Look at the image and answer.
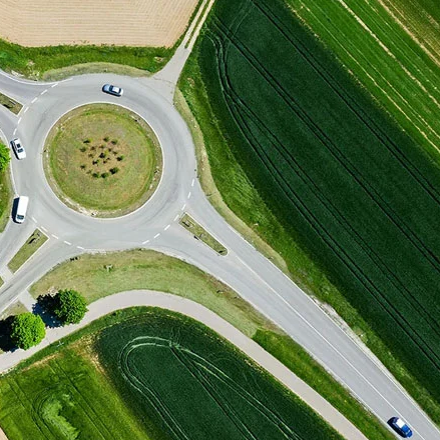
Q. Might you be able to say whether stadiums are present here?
No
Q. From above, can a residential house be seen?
No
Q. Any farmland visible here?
Yes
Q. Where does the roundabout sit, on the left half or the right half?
left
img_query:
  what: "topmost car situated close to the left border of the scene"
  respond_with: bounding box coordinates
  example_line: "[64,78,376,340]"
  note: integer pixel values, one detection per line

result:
[12,139,26,159]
